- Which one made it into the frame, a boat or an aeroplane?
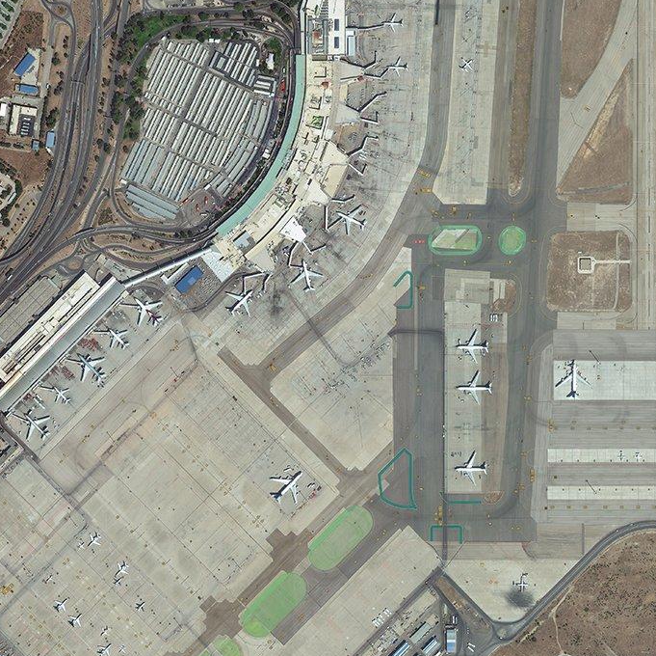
aeroplane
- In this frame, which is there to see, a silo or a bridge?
bridge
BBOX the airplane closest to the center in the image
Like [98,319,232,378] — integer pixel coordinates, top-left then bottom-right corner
[291,261,325,293]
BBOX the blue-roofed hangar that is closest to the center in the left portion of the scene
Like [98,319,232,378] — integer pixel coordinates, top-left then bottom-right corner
[175,266,202,293]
